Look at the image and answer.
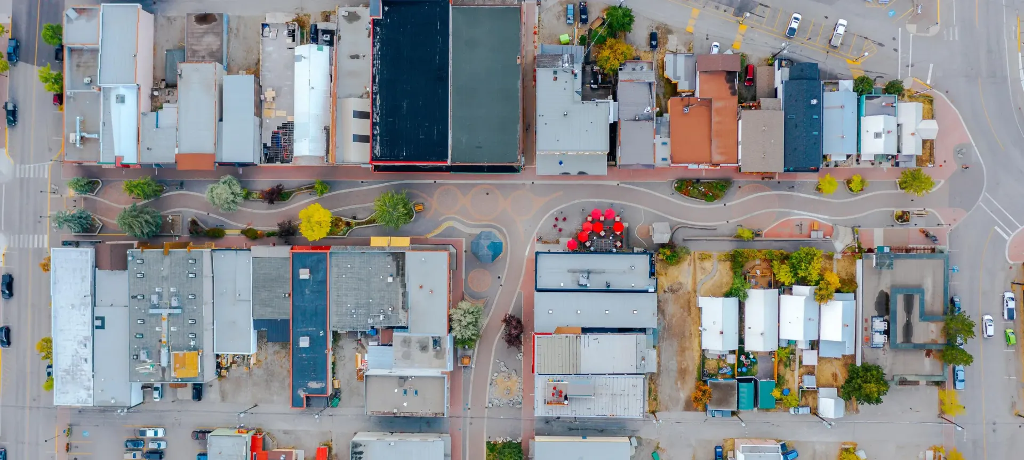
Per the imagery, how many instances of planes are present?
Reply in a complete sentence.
Not a single plane can be seen.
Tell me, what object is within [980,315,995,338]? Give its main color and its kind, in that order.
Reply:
white car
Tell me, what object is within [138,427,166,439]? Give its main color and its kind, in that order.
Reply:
white vehicle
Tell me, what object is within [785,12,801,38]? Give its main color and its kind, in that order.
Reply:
white vehicle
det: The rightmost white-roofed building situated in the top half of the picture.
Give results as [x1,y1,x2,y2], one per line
[893,101,939,167]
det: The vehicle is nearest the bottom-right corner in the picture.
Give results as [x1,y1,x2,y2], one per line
[953,366,966,389]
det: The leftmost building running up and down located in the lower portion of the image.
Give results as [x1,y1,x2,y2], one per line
[52,243,99,406]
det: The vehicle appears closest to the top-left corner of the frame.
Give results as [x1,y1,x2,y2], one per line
[6,38,20,63]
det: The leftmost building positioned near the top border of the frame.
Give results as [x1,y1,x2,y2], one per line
[63,5,102,165]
